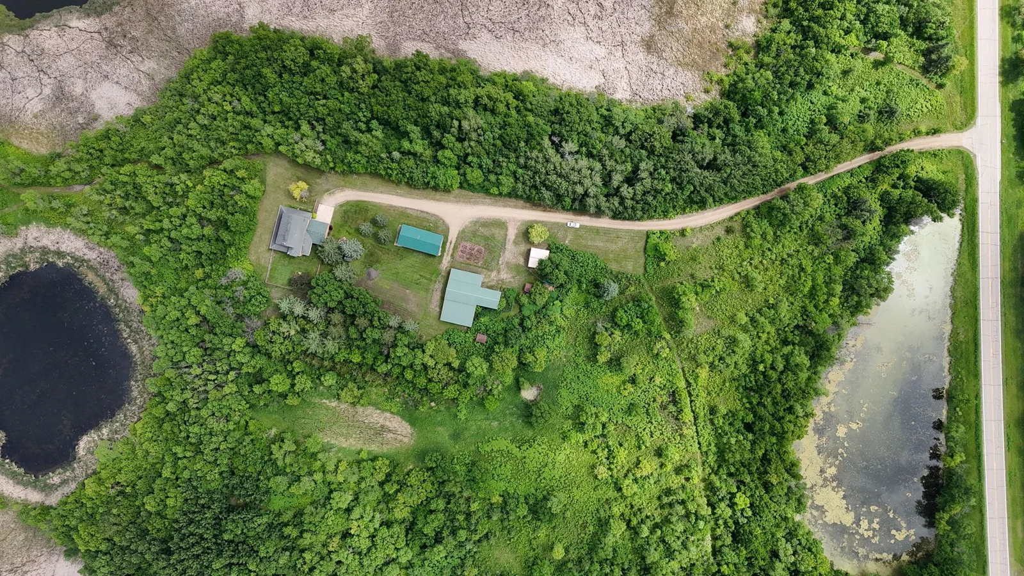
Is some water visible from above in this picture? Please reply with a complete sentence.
Yes, water can be seen from above here.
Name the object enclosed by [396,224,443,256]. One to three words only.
shed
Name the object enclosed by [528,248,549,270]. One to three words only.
shed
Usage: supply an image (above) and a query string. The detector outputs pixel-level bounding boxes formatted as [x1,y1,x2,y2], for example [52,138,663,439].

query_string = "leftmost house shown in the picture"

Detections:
[270,205,329,257]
